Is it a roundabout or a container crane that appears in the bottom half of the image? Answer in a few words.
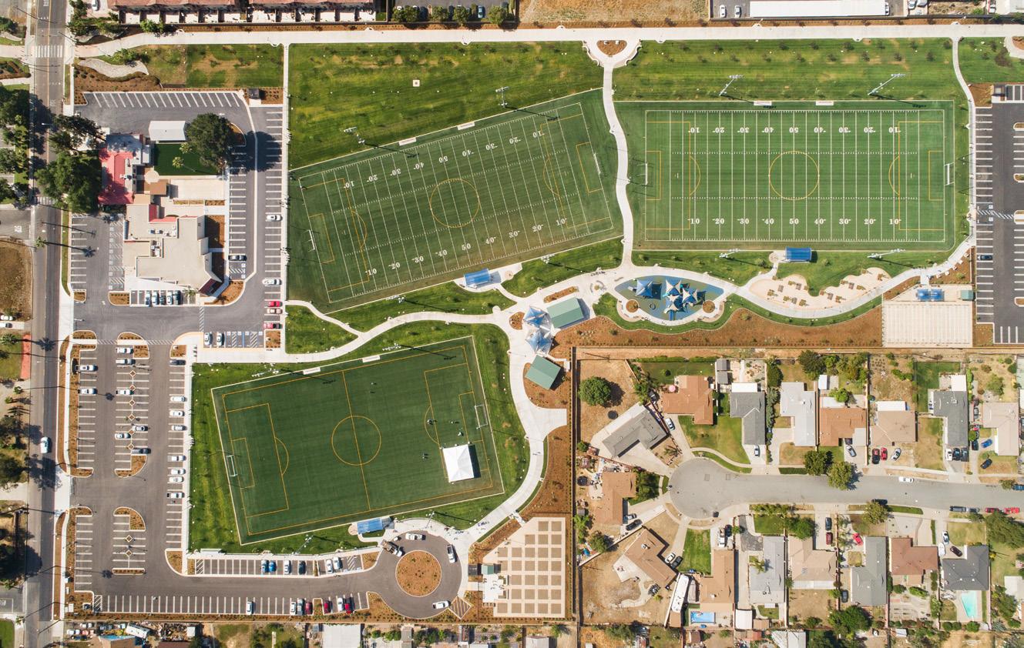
roundabout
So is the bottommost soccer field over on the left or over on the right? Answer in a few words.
left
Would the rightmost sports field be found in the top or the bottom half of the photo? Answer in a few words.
top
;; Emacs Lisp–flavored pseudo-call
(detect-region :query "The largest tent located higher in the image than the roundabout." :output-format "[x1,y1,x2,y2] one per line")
[443,444,474,482]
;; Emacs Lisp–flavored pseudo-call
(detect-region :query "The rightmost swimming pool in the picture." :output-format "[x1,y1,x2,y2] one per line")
[962,591,979,619]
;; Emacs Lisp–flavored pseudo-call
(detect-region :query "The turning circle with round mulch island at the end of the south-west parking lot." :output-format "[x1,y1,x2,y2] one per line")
[377,531,460,618]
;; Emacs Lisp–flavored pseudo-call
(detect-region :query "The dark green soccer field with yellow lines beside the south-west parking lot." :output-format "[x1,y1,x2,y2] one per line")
[210,335,504,546]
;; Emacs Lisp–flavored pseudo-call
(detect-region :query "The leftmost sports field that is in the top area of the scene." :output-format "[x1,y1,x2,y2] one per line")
[288,86,624,313]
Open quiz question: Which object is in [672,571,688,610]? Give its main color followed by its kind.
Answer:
white camper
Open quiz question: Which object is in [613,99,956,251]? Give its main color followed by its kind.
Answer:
green sports field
